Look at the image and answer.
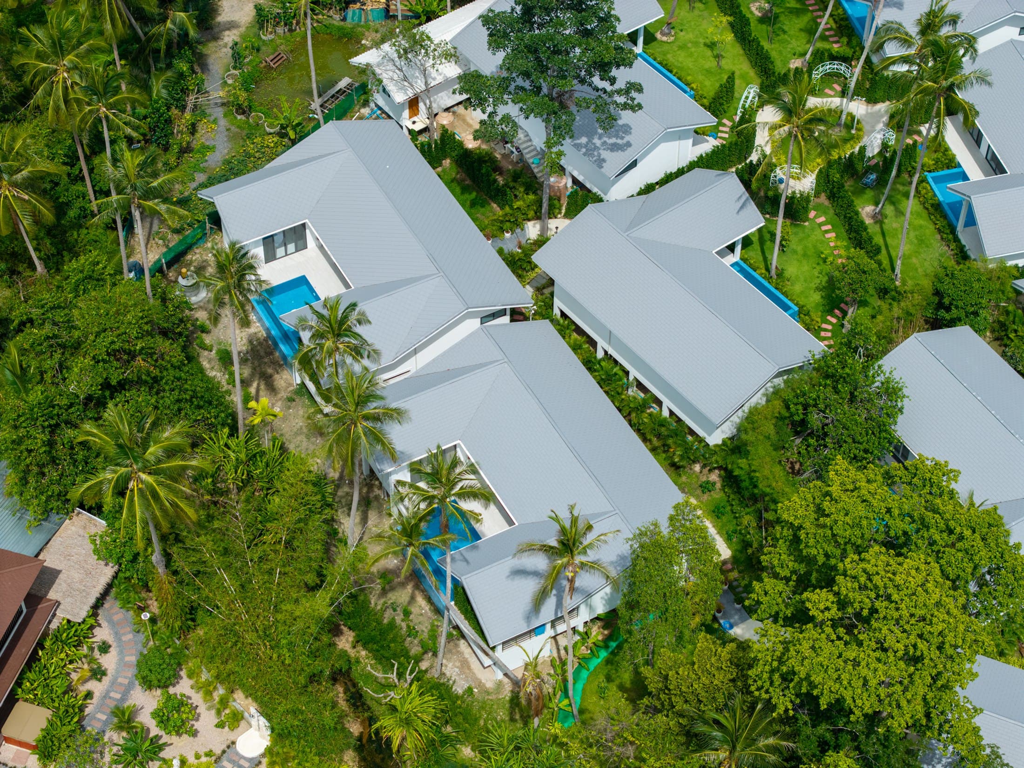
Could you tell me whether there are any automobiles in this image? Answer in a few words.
No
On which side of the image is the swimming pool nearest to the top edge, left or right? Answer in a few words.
right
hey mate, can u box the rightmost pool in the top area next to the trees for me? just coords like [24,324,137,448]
[916,166,977,255]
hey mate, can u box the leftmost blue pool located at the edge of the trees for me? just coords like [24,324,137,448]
[251,273,322,392]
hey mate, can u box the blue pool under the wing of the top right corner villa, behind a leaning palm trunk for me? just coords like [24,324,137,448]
[824,0,878,66]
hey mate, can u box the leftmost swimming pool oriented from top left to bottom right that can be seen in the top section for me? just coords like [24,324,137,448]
[637,53,702,106]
